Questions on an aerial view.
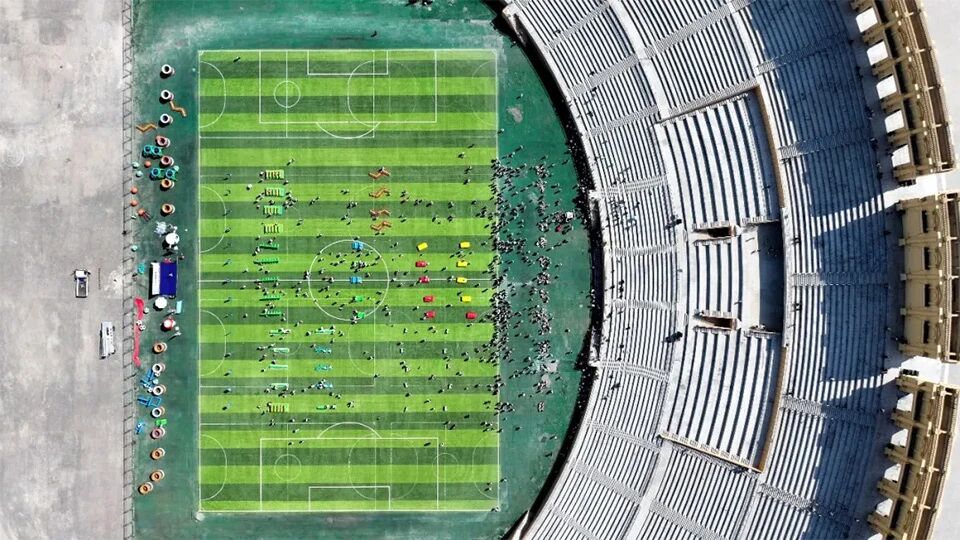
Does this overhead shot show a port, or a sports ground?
sports ground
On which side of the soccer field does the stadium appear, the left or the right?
right of it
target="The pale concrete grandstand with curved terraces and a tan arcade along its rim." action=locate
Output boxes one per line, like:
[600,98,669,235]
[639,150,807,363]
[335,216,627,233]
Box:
[488,0,960,540]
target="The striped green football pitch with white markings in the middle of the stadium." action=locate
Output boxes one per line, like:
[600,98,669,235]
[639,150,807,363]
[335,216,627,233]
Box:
[197,48,501,514]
